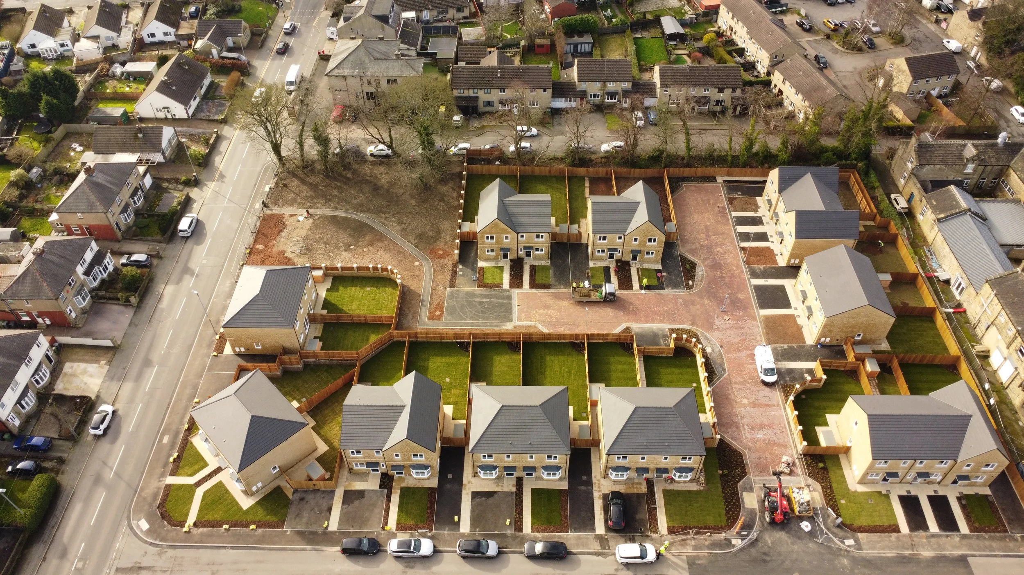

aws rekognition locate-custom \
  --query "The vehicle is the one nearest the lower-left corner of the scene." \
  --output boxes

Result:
[5,458,44,477]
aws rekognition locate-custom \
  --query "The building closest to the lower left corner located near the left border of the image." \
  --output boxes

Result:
[0,330,58,436]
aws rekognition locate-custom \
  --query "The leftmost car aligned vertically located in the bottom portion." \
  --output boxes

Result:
[607,491,626,530]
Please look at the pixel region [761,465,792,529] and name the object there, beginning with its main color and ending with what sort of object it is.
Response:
red work vehicle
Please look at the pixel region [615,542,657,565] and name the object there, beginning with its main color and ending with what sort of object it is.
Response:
white car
